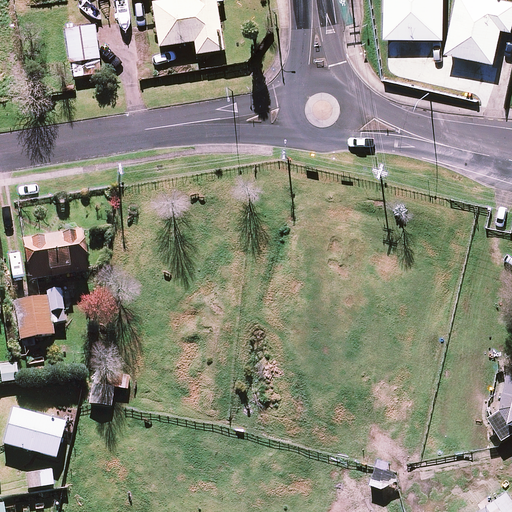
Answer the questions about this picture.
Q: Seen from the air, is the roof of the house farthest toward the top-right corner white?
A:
Yes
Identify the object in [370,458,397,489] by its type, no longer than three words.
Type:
shed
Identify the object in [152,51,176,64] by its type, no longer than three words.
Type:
vehicle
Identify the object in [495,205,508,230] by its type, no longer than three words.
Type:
vehicle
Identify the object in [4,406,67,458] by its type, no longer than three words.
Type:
house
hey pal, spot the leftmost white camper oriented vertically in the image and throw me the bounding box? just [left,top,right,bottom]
[8,251,23,281]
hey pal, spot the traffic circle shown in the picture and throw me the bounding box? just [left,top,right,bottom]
[304,92,340,128]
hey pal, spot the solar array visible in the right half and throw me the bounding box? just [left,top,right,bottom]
[490,412,508,439]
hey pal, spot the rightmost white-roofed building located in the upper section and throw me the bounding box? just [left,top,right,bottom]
[444,0,512,65]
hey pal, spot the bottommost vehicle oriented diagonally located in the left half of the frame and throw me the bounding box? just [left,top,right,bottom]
[100,44,123,71]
